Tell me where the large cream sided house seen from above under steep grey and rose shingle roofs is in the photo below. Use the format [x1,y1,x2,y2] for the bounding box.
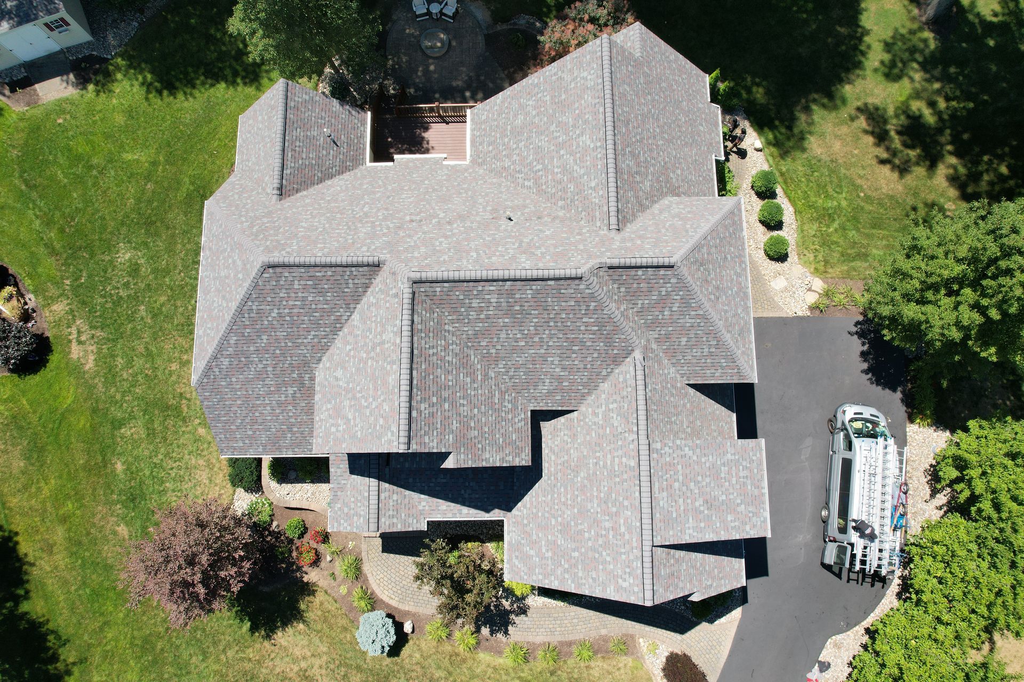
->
[191,20,774,606]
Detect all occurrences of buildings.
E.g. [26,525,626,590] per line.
[191,20,774,606]
[0,0,95,71]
